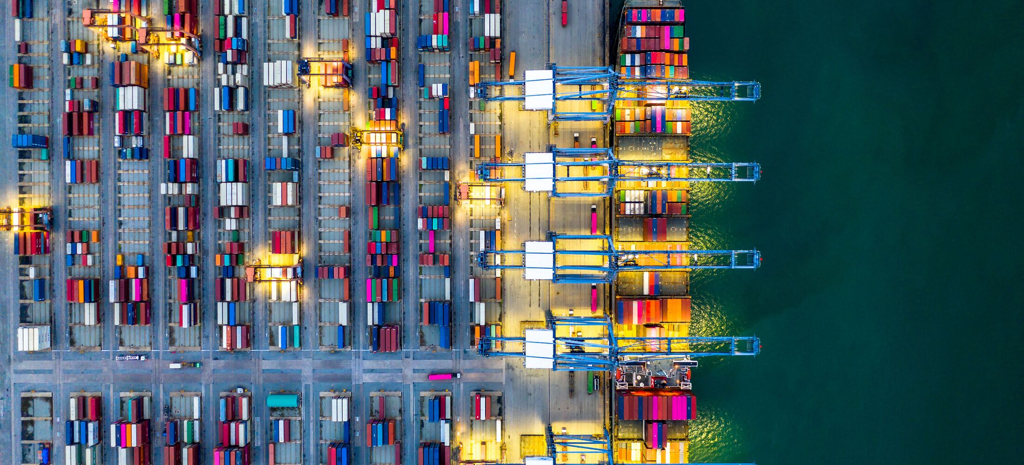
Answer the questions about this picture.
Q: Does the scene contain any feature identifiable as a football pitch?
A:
No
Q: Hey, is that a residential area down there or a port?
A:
port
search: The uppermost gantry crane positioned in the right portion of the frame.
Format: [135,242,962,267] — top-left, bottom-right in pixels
[475,67,760,132]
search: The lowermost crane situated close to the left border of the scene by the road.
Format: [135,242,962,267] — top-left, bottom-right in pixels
[0,205,55,234]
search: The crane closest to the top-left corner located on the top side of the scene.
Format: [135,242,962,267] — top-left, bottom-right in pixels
[83,8,153,43]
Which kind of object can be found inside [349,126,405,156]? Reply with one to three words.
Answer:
crane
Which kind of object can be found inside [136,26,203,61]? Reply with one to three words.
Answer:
crane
